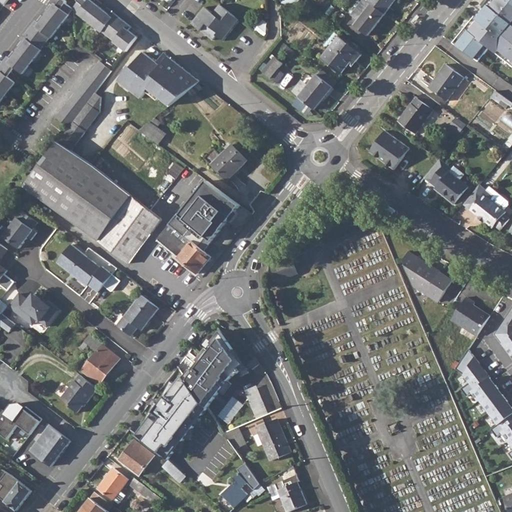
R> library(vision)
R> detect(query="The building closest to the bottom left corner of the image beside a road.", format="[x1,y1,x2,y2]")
[0,469,32,511]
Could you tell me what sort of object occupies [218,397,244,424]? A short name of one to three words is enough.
shed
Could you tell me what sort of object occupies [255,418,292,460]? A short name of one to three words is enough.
house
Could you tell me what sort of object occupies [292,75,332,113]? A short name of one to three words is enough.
house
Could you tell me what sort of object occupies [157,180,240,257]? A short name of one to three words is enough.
building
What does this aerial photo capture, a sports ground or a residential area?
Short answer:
residential area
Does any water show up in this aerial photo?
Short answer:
No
